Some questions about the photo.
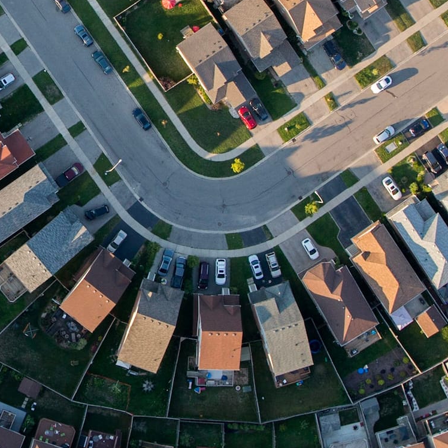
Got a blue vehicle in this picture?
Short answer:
Yes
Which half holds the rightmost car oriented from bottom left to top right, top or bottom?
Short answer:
top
